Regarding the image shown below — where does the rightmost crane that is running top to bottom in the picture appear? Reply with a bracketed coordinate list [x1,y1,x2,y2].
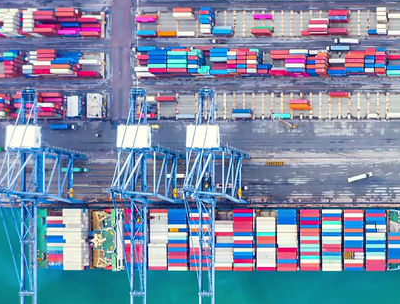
[181,87,254,304]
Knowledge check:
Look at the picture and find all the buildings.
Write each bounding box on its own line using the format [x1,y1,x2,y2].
[68,96,85,119]
[87,93,108,119]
